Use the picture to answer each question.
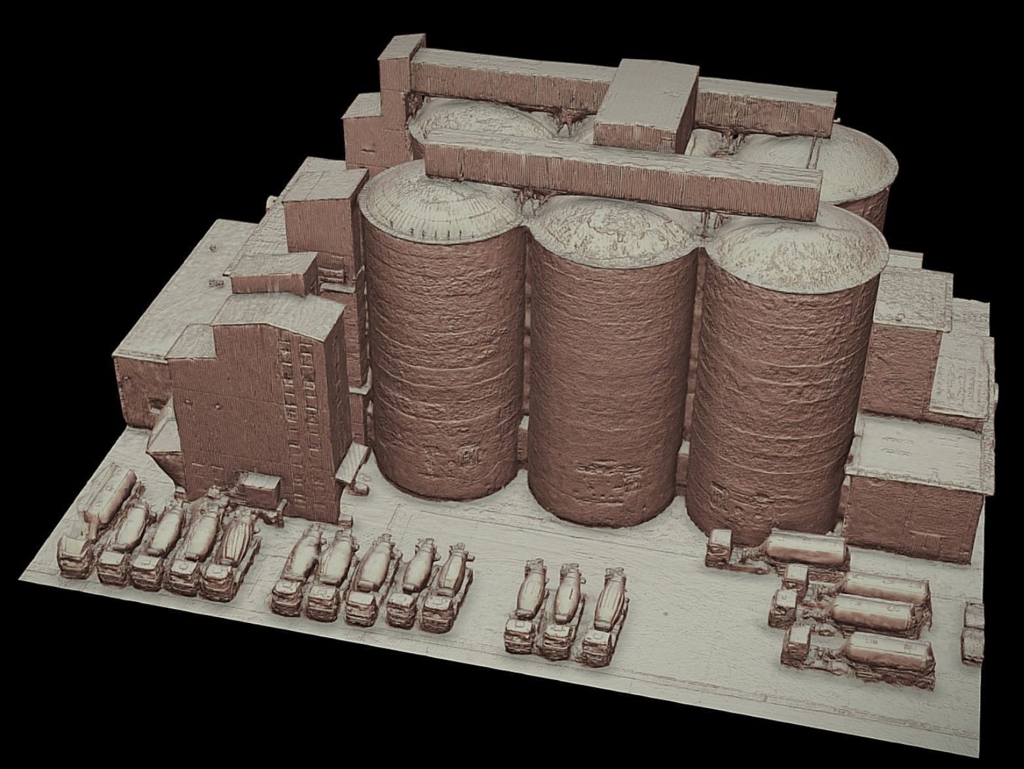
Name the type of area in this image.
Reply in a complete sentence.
It's an industrial area.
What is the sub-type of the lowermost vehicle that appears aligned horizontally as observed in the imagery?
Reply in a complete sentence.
I'd identify the lowermost vehicle that appears aligned horizontally as a truck.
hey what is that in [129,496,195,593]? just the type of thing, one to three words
truck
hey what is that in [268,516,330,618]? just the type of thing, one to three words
truck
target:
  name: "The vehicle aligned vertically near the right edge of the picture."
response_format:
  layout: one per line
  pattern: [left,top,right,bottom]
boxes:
[961,603,985,670]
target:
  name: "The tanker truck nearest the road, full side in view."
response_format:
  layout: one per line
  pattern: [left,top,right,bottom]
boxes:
[782,625,938,691]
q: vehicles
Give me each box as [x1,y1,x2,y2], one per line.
[60,467,137,584]
[167,499,235,599]
[780,566,927,625]
[768,589,923,644]
[579,566,633,672]
[782,625,938,691]
[129,496,195,593]
[343,530,404,630]
[540,559,593,663]
[501,555,554,658]
[268,516,330,618]
[420,535,479,635]
[384,532,445,633]
[961,603,985,670]
[305,525,365,625]
[201,506,266,604]
[95,493,162,589]
[704,529,851,589]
